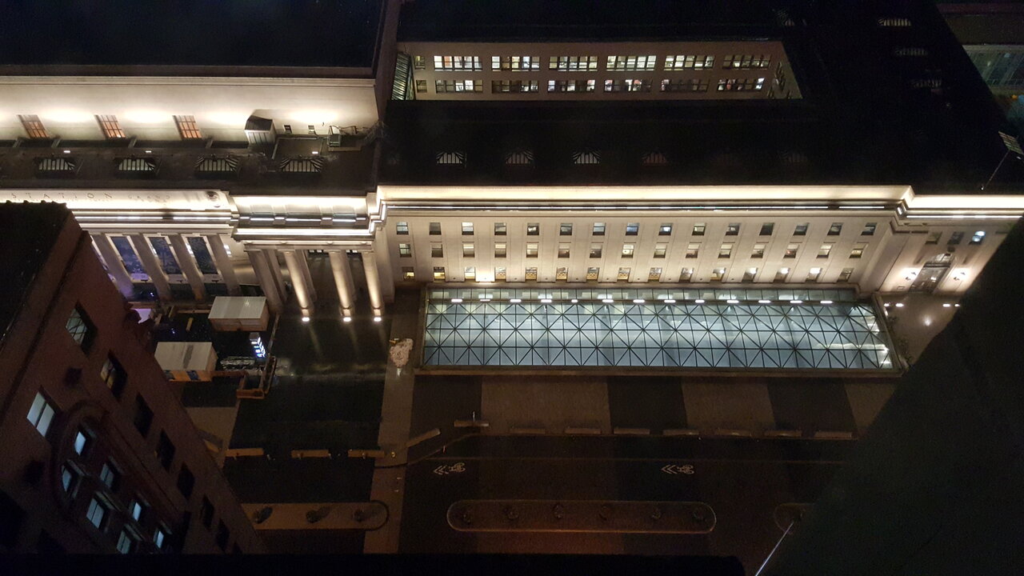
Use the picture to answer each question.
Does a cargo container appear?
No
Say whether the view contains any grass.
No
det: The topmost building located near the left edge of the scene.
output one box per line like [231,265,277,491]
[0,0,400,315]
